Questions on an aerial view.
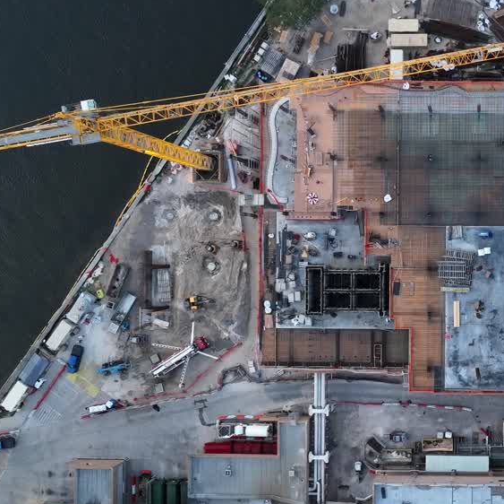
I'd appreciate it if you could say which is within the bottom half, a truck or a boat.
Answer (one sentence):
The feature located within the bottom half is a truck.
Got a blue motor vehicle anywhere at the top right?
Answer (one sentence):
No, no blue motor vehicle appears at the top right.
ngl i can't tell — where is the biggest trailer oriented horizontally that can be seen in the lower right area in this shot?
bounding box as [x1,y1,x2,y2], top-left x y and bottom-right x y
[427,450,489,472]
